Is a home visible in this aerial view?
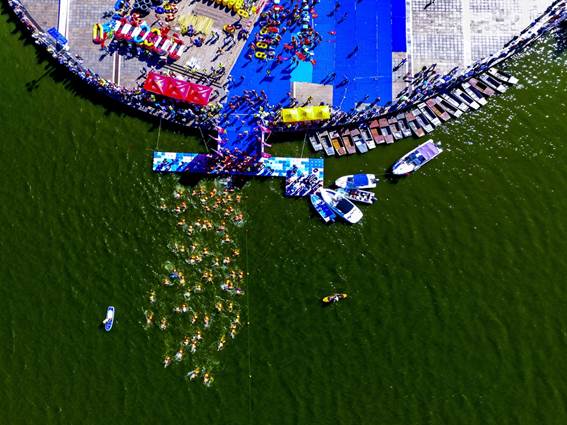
No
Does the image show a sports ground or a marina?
marina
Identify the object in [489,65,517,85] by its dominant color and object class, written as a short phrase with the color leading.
white boat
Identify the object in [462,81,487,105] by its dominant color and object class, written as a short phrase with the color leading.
white boat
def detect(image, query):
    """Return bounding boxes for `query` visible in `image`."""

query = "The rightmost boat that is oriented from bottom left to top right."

[391,139,441,173]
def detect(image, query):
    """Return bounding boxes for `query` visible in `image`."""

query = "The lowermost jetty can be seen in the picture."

[153,152,326,199]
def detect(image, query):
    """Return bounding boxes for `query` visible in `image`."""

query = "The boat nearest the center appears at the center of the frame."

[311,194,332,222]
